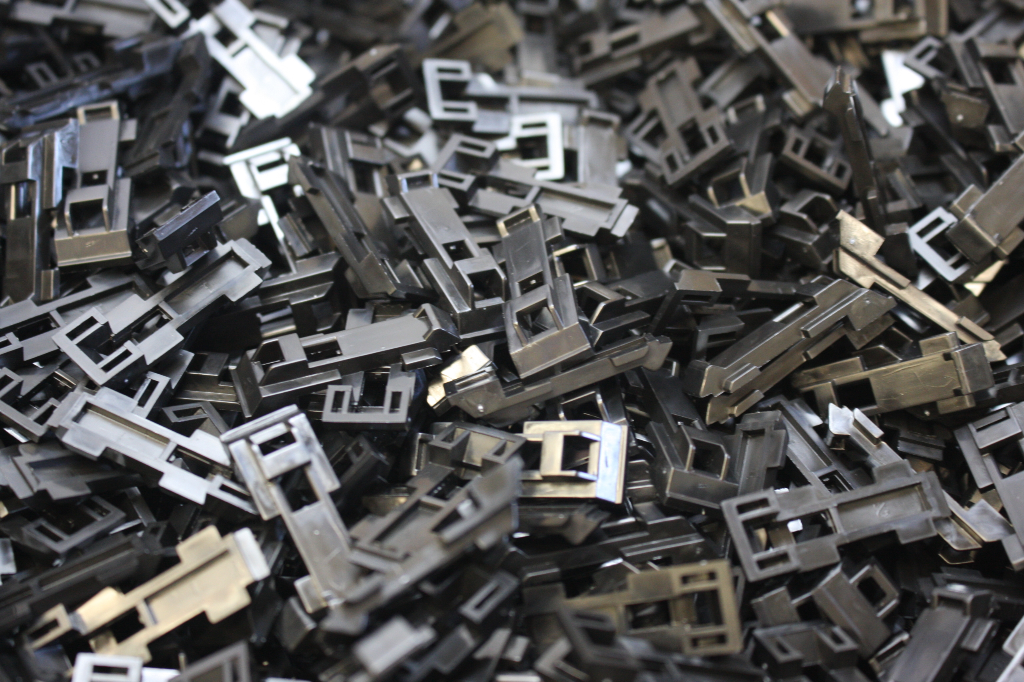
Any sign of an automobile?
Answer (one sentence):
No, no automobile is visible in the scene.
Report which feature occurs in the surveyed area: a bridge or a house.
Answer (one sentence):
I can see a bridge in this picture.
